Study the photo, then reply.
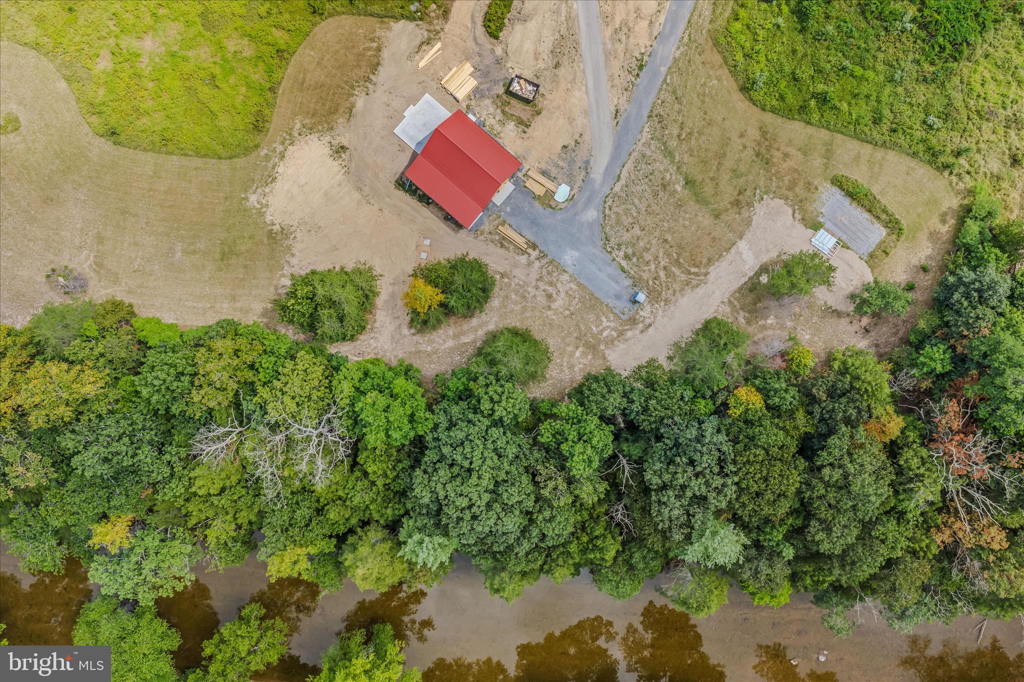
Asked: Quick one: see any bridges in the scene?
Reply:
No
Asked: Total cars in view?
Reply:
0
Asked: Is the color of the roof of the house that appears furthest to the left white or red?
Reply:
red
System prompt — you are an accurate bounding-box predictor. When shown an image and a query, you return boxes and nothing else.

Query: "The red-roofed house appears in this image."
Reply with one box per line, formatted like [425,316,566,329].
[404,109,523,232]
